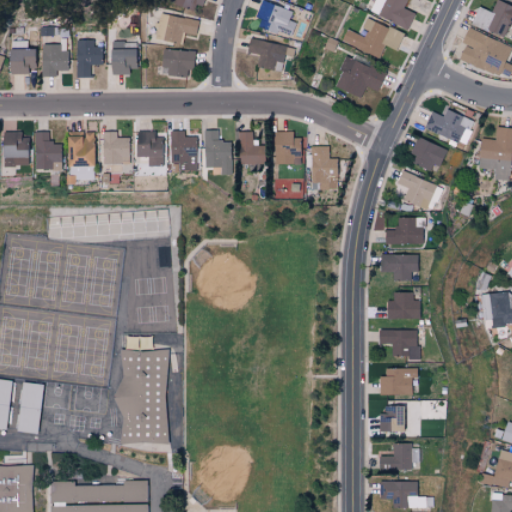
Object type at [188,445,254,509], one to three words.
baseball field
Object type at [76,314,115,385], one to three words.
tennis court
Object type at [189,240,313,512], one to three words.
sports field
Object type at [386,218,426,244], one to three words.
house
